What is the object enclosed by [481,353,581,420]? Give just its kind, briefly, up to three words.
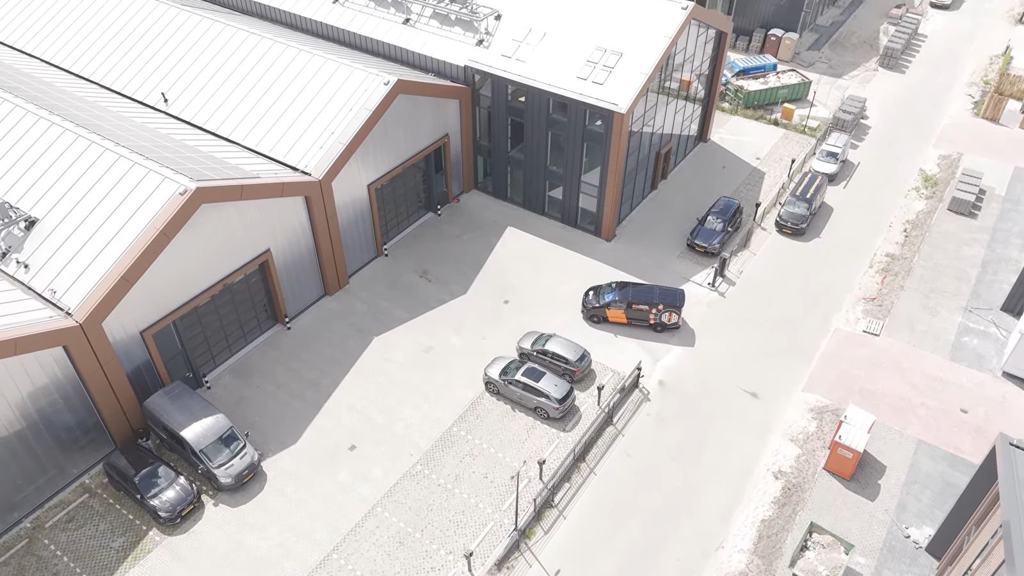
car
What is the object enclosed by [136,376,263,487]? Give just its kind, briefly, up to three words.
van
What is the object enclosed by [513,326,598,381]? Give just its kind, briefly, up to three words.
car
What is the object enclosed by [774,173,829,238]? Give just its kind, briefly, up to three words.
van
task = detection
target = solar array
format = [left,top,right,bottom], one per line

[0,67,257,179]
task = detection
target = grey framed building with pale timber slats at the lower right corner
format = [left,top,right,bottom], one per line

[925,430,1024,576]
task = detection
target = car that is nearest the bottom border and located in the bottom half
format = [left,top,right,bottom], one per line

[102,442,203,525]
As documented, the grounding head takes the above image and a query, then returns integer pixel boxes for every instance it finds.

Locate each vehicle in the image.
[685,197,744,259]
[718,54,778,97]
[809,119,859,179]
[481,353,581,420]
[578,276,687,331]
[513,326,598,381]
[102,442,203,525]
[774,173,829,238]
[136,376,263,487]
